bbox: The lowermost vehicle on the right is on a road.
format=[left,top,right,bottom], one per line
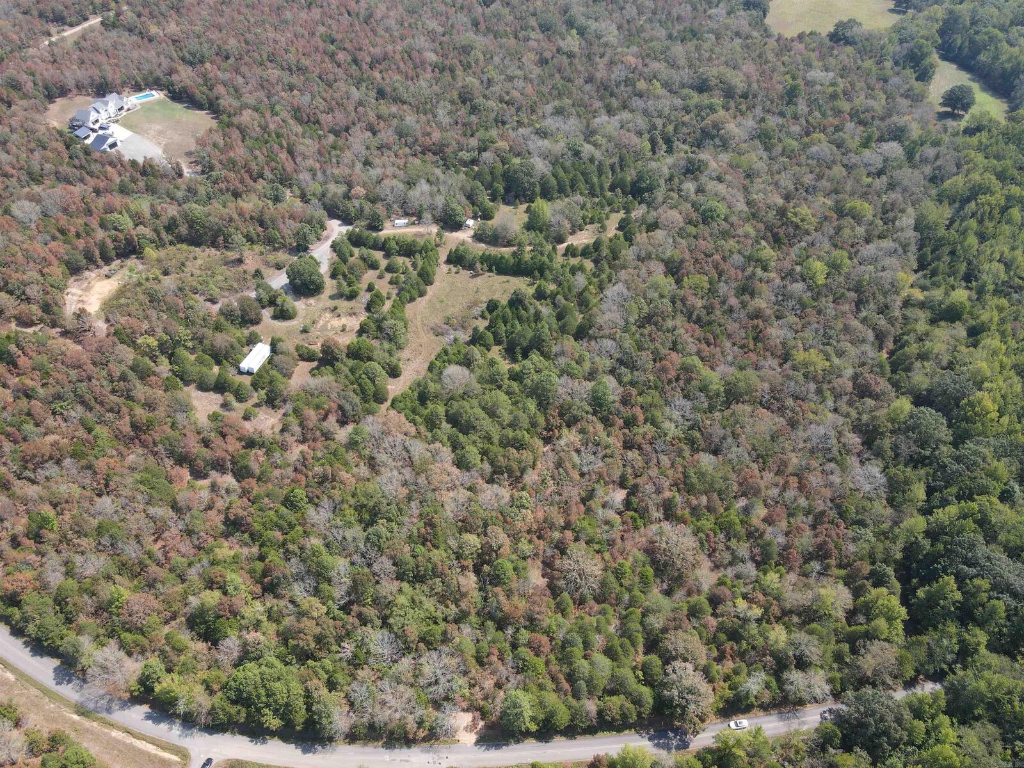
[729,719,750,731]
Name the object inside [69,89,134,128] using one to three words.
house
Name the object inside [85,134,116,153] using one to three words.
building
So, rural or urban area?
rural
